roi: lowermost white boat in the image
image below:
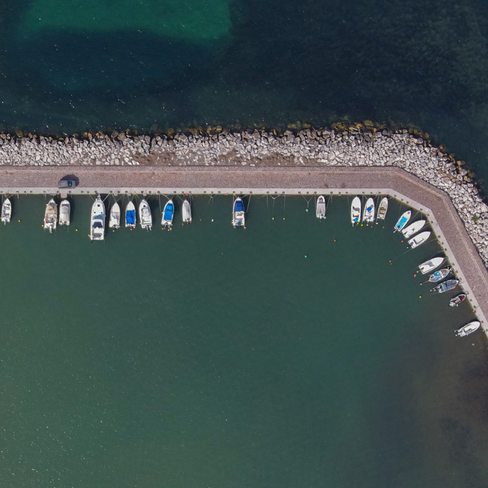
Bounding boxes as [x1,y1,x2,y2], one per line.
[456,322,479,338]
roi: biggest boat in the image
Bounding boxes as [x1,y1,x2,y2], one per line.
[91,193,105,247]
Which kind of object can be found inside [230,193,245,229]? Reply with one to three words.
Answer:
boat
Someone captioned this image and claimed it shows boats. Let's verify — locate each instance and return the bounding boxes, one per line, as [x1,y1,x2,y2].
[230,193,245,229]
[162,194,179,227]
[408,253,449,284]
[447,295,465,307]
[408,229,439,249]
[125,201,136,229]
[364,193,375,224]
[401,220,430,238]
[2,194,13,224]
[351,195,361,226]
[57,194,70,226]
[394,211,413,232]
[43,193,59,230]
[181,196,191,224]
[91,193,105,247]
[139,198,152,230]
[377,194,388,222]
[316,194,326,219]
[429,269,455,282]
[110,195,122,229]
[431,279,457,297]
[456,322,479,338]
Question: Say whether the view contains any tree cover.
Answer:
No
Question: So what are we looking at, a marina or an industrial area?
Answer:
marina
